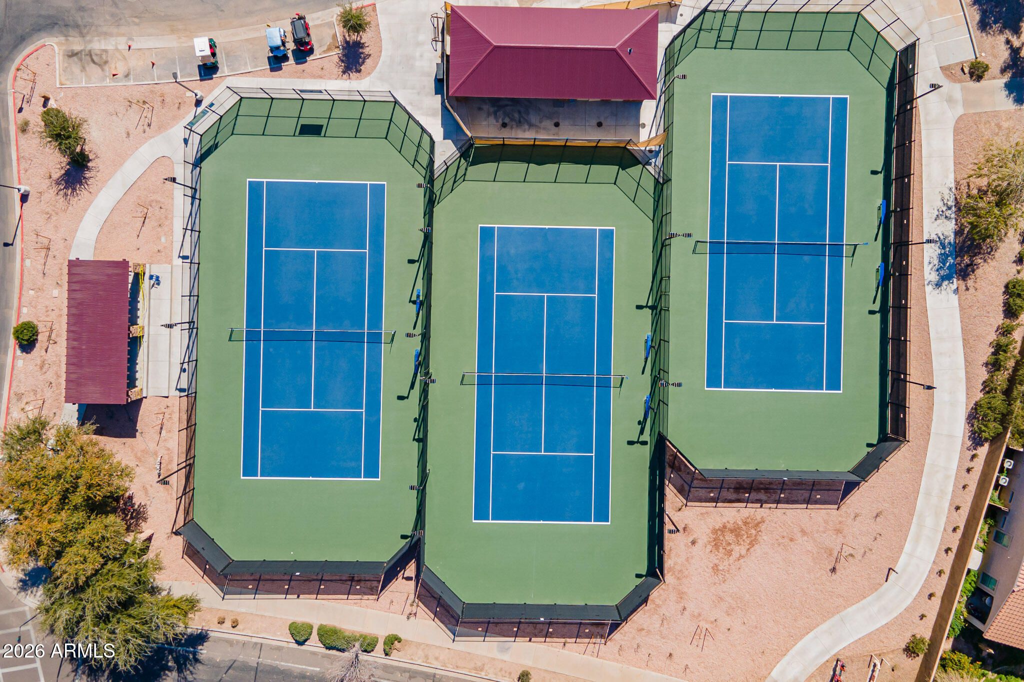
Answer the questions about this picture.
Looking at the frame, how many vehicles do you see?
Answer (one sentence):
In total, there are 3 vehicles in the scene.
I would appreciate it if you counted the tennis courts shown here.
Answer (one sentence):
The number of tennis courts here is 3.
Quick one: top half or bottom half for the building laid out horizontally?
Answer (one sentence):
The building laid out horizontally sits in the top half of the picture.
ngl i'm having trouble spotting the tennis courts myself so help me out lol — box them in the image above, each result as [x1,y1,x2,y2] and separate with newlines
[659,12,897,471]
[425,145,662,605]
[193,98,435,561]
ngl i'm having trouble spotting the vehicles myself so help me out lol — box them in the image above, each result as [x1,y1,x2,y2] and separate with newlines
[195,32,222,68]
[290,13,315,51]
[266,24,291,60]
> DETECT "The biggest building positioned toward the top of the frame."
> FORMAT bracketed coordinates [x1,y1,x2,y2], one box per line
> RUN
[449,5,660,105]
